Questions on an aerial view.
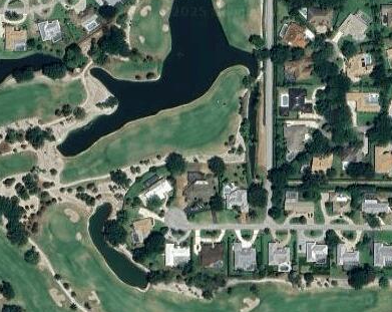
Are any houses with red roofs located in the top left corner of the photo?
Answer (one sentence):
No, the scene shows no house with a red roof in the top left corner of the photo.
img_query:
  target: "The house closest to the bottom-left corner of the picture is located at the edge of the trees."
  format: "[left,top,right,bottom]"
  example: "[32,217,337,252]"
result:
[130,217,155,243]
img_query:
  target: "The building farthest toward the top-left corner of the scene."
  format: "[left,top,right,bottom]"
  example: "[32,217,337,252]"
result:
[4,25,28,49]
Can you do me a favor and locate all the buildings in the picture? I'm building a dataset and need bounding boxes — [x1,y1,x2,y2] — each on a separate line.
[130,217,155,243]
[346,92,380,111]
[80,11,103,35]
[143,173,172,205]
[269,244,289,264]
[346,60,375,82]
[290,89,311,111]
[329,194,352,213]
[199,245,222,267]
[39,20,63,43]
[373,244,392,266]
[4,25,28,49]
[362,197,390,212]
[304,9,333,31]
[374,145,392,172]
[342,143,367,165]
[186,182,215,203]
[283,22,309,48]
[234,244,256,271]
[311,154,333,173]
[166,244,190,266]
[226,188,247,211]
[381,8,392,28]
[283,125,310,153]
[284,185,313,211]
[283,57,313,82]
[306,243,327,262]
[339,12,370,42]
[336,245,360,268]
